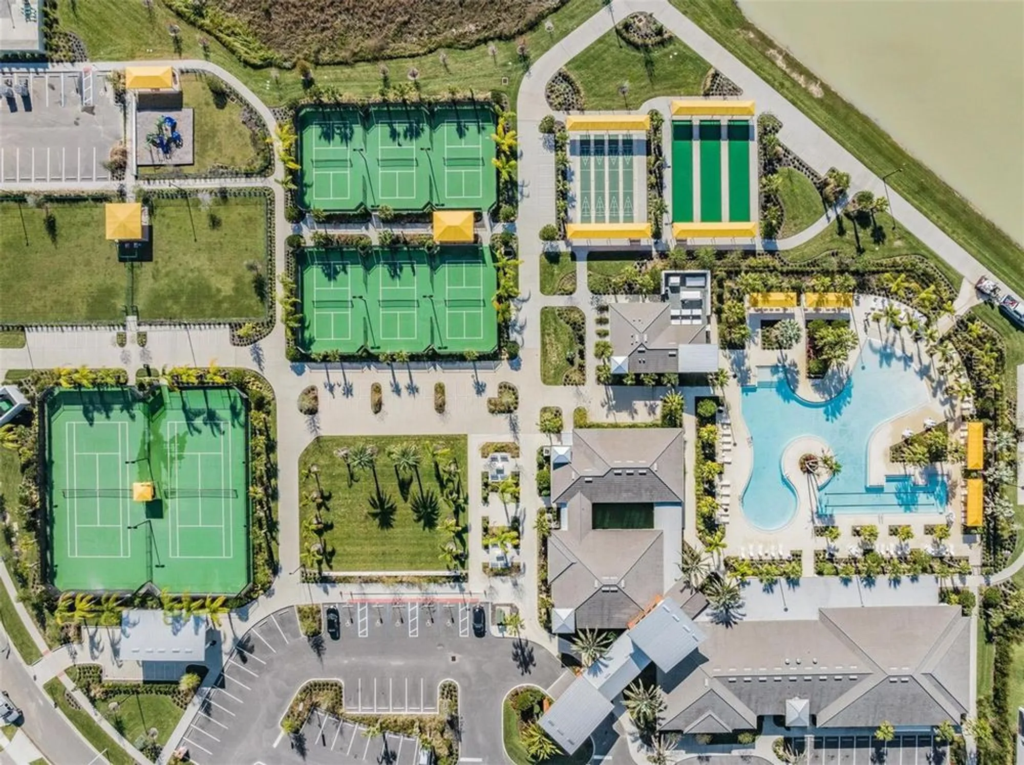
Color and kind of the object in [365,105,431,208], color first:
green sports court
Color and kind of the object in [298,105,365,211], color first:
green sports court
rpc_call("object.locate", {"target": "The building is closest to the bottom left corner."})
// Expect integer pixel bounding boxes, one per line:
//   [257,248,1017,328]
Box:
[120,610,210,661]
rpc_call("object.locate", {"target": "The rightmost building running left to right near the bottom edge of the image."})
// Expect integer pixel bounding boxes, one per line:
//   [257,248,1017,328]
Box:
[656,607,972,735]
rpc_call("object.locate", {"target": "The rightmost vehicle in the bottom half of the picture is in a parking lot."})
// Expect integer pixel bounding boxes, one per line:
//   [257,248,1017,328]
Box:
[472,609,486,638]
